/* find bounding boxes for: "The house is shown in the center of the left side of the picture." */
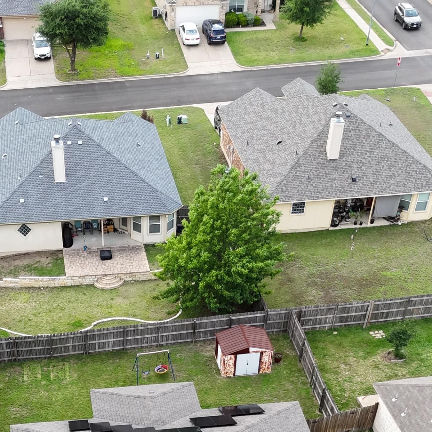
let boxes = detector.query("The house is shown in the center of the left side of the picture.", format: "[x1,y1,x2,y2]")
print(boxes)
[0,107,183,257]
